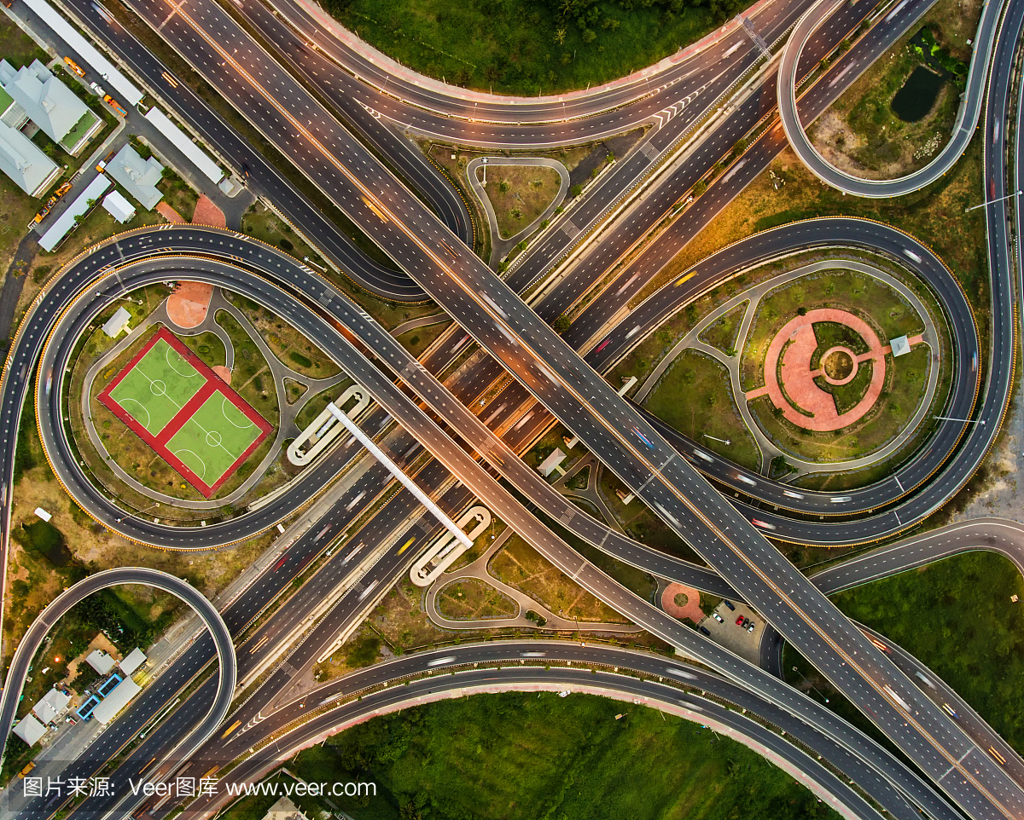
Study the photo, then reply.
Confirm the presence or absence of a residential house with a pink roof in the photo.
No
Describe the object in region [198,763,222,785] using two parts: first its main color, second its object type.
orange bus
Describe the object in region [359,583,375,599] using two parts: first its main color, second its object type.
white vehicle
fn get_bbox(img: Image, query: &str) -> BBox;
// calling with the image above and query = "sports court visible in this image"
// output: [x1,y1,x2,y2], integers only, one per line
[96,328,273,498]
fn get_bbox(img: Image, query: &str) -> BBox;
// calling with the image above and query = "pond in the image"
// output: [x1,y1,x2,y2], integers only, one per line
[892,65,949,122]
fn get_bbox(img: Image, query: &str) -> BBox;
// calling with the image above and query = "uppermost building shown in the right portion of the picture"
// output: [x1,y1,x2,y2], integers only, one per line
[886,335,910,357]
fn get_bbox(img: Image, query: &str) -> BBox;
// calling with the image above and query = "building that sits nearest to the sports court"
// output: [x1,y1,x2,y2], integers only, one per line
[102,307,134,337]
